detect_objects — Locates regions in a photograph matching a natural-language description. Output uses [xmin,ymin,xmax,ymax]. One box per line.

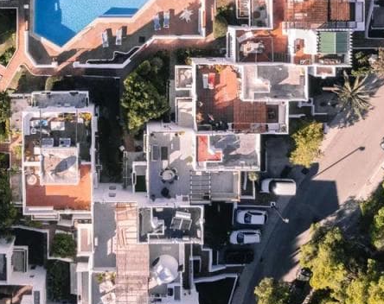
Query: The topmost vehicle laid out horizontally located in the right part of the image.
[259,178,298,197]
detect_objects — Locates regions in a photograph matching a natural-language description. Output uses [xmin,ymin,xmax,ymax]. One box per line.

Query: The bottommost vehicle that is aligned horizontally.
[221,247,256,264]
